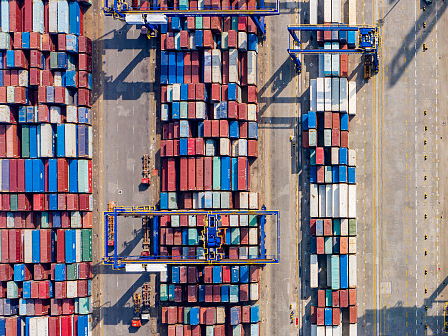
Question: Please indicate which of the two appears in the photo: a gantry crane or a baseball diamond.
gantry crane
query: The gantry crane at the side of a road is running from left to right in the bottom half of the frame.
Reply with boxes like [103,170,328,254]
[102,202,281,275]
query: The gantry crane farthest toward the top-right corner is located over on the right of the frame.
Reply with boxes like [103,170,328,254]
[288,24,382,77]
